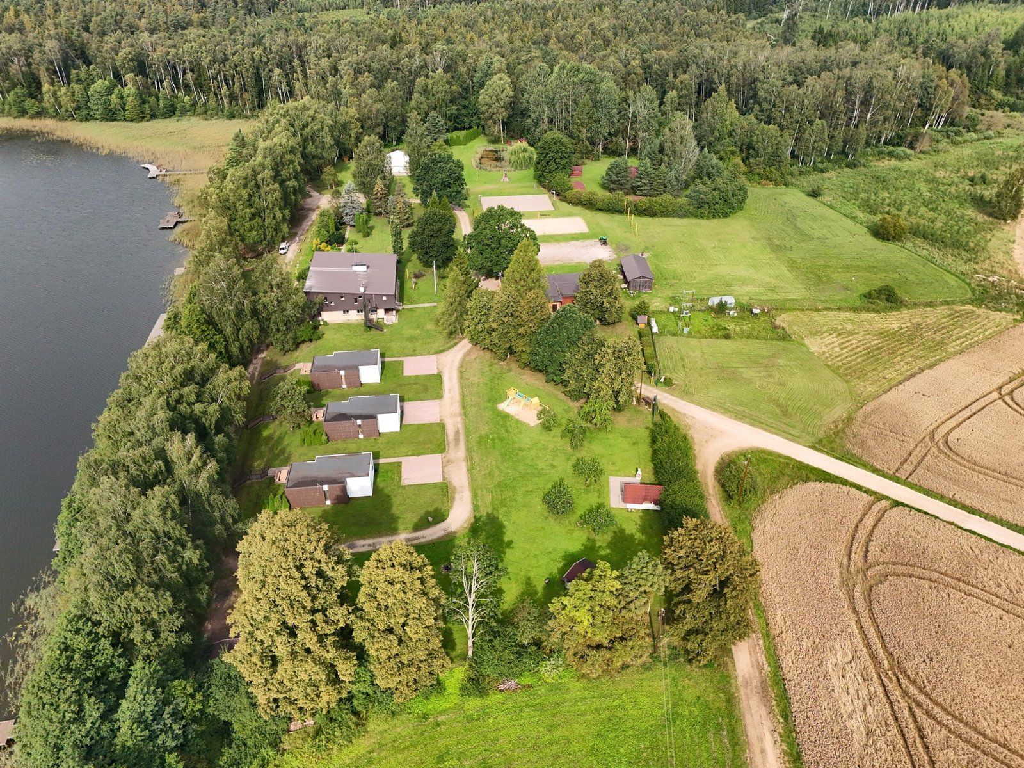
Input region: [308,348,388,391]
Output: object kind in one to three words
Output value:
building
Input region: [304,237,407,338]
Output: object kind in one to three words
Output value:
house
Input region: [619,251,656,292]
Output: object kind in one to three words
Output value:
barn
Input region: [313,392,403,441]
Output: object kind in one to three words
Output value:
building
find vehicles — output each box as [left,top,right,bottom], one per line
[598,231,608,246]
[277,237,290,251]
